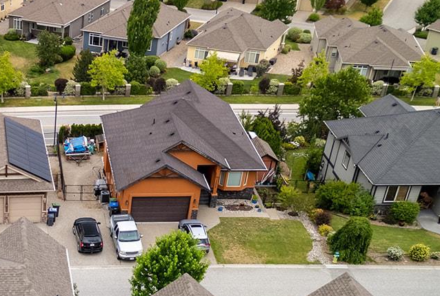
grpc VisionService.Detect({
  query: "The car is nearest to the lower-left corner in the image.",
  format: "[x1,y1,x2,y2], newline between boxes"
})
[71,217,107,251]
